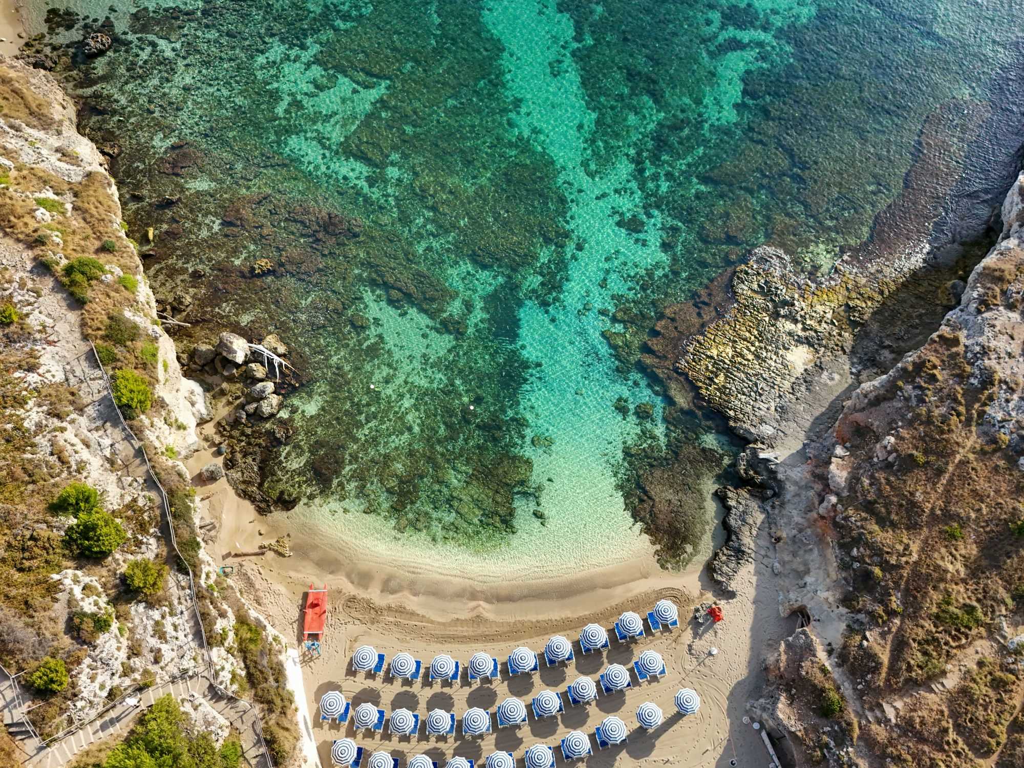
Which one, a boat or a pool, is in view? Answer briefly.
boat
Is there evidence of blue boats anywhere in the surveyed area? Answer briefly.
No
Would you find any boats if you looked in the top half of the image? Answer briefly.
No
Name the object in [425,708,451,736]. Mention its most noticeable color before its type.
white umbrella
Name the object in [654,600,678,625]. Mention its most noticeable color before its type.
white umbrella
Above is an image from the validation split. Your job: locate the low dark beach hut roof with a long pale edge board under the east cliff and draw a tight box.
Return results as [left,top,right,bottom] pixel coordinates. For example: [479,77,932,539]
[759,724,801,768]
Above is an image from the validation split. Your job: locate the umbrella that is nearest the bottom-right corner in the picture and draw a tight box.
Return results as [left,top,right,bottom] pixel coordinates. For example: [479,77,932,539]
[673,687,699,715]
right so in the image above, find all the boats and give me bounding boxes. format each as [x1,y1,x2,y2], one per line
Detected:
[303,586,329,641]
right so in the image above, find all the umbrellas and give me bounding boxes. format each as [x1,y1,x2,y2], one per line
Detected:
[534,687,560,716]
[528,741,553,768]
[561,729,588,758]
[431,656,456,682]
[368,750,394,768]
[391,654,416,680]
[469,654,496,681]
[486,748,513,768]
[391,707,417,735]
[673,687,699,715]
[320,689,347,718]
[654,600,678,625]
[639,650,663,676]
[354,645,379,672]
[568,677,594,705]
[544,635,570,662]
[332,737,361,767]
[583,624,609,650]
[598,718,624,746]
[617,612,641,637]
[603,664,628,691]
[509,646,535,673]
[498,698,524,727]
[463,708,488,736]
[425,708,451,736]
[635,700,661,728]
[356,700,382,730]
